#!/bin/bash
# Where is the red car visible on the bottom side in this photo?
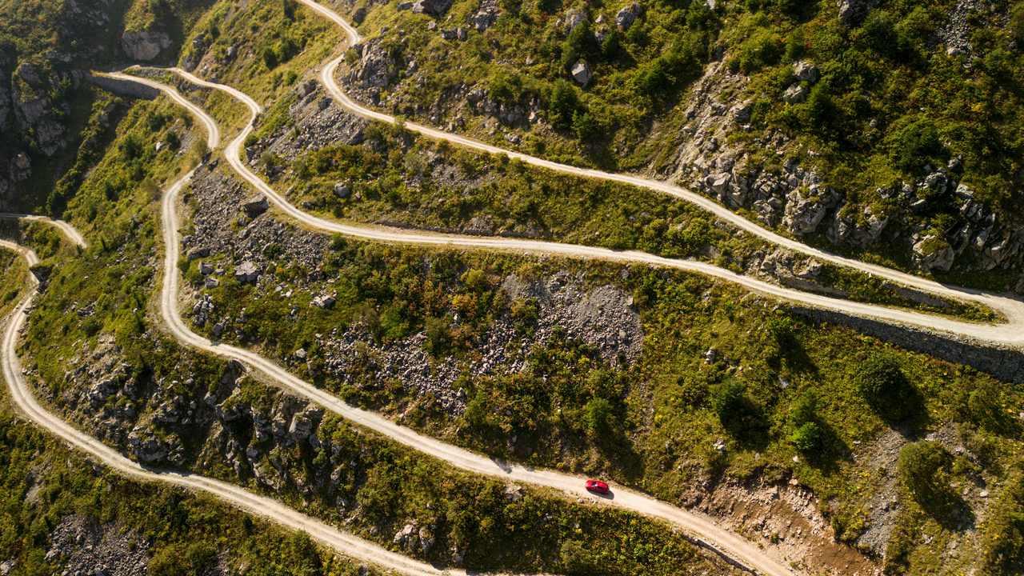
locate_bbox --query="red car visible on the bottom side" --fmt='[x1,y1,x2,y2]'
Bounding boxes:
[587,479,611,494]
